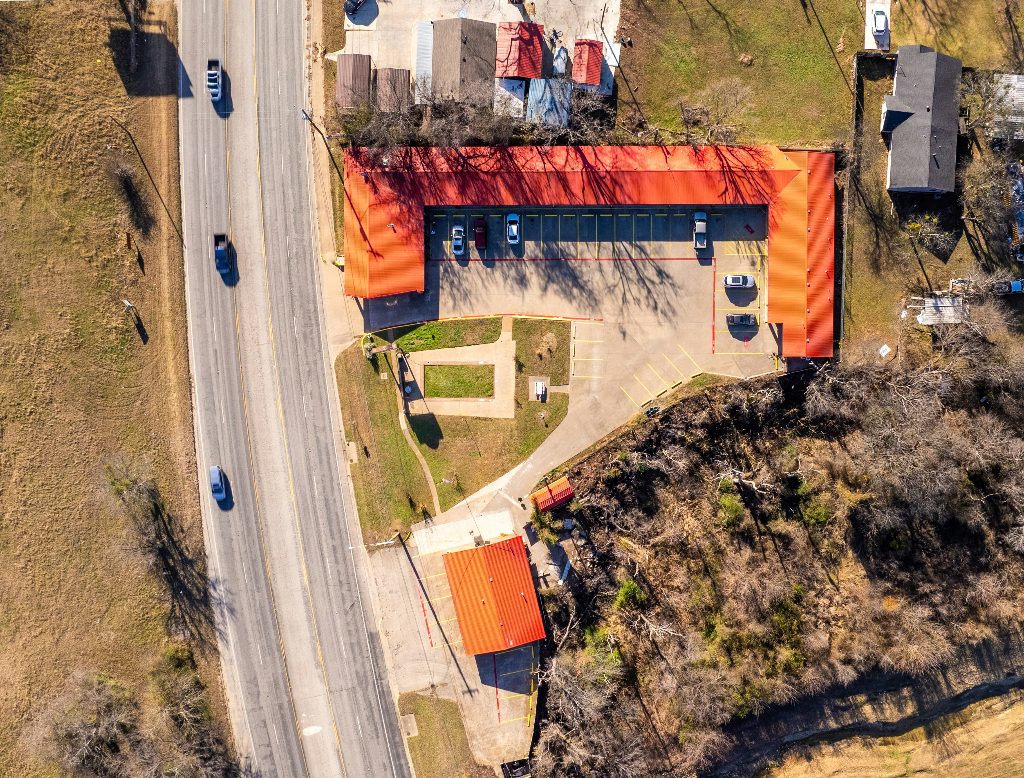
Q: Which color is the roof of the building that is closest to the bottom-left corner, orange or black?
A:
orange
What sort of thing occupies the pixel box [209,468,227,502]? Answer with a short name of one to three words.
car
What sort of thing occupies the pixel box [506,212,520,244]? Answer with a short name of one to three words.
car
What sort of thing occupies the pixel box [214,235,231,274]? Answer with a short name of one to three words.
vehicle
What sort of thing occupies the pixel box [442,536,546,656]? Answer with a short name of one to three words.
building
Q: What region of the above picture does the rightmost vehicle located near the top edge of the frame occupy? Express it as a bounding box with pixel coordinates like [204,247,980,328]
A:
[872,2,889,34]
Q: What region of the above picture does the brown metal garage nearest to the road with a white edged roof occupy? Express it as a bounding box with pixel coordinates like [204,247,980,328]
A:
[337,53,373,113]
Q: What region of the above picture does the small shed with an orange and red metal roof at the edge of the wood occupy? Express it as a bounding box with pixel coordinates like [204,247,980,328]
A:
[528,477,575,512]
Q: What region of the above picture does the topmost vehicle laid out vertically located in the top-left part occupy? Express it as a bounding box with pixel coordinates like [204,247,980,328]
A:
[205,59,222,99]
